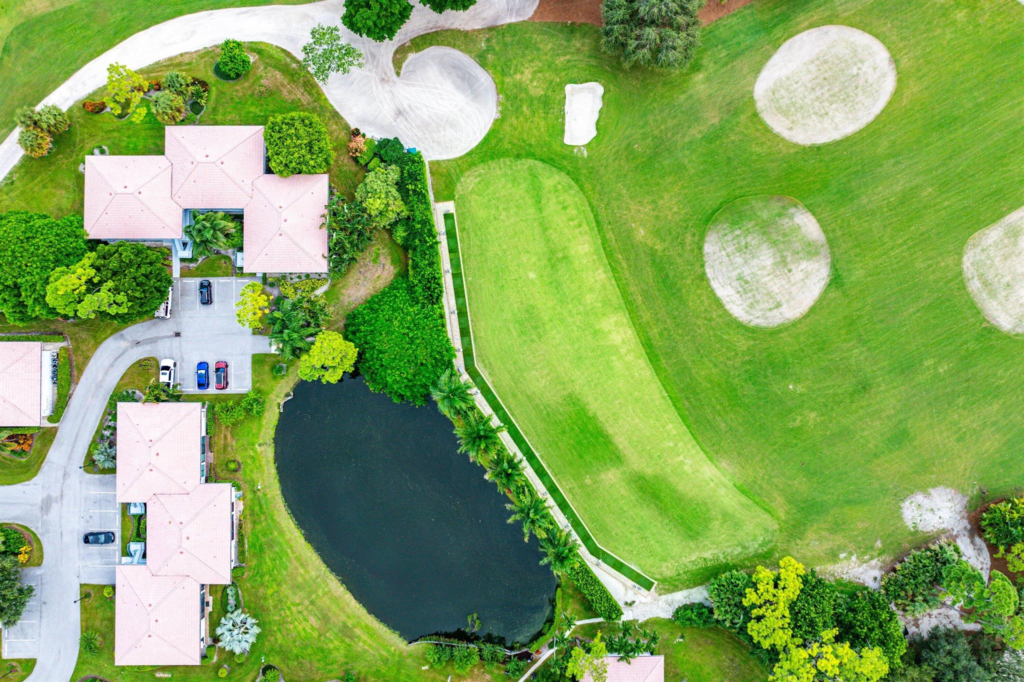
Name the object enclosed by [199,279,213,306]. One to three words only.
car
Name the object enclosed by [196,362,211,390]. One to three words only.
car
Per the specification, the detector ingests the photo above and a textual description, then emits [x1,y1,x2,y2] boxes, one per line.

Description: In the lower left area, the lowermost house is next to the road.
[114,402,235,666]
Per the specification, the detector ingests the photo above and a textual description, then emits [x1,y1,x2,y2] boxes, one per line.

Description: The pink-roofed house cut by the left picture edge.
[0,341,53,427]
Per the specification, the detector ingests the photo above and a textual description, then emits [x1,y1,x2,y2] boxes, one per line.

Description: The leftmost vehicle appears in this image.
[85,531,116,545]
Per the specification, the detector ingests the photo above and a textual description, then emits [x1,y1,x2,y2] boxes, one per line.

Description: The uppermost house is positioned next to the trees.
[83,125,332,273]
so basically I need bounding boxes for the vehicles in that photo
[156,287,174,319]
[199,279,213,306]
[160,360,175,389]
[196,362,211,390]
[85,531,116,545]
[215,361,229,390]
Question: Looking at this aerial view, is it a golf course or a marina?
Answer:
golf course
